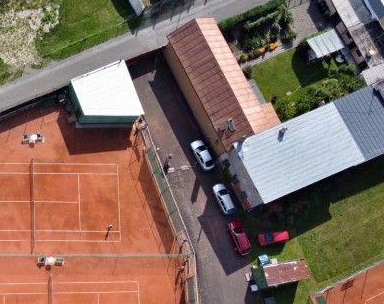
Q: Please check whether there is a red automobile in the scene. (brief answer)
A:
Yes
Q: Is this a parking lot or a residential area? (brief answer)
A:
residential area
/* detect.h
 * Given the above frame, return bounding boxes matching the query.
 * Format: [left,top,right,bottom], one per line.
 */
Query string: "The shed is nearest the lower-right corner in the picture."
[245,258,311,290]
